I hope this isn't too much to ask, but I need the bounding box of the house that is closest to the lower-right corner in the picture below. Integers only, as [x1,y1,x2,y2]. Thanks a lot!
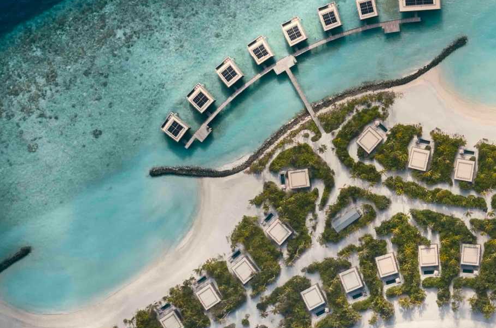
[459,243,482,276]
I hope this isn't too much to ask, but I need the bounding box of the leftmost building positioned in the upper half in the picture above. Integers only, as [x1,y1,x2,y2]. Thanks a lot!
[161,113,192,141]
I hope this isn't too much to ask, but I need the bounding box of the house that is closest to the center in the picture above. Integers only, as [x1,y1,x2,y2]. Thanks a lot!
[279,167,312,190]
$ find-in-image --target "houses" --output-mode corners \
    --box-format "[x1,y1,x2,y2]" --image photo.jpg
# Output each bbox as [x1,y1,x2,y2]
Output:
[356,0,379,25]
[279,167,312,190]
[281,17,308,46]
[301,284,333,319]
[408,136,433,171]
[161,113,192,141]
[246,36,276,66]
[454,149,478,181]
[260,210,294,244]
[187,84,217,114]
[156,299,187,328]
[226,248,259,283]
[339,266,369,301]
[375,252,403,287]
[215,57,246,87]
[399,0,441,11]
[357,119,390,154]
[317,2,343,33]
[193,275,223,310]
[459,243,482,276]
[418,244,441,277]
